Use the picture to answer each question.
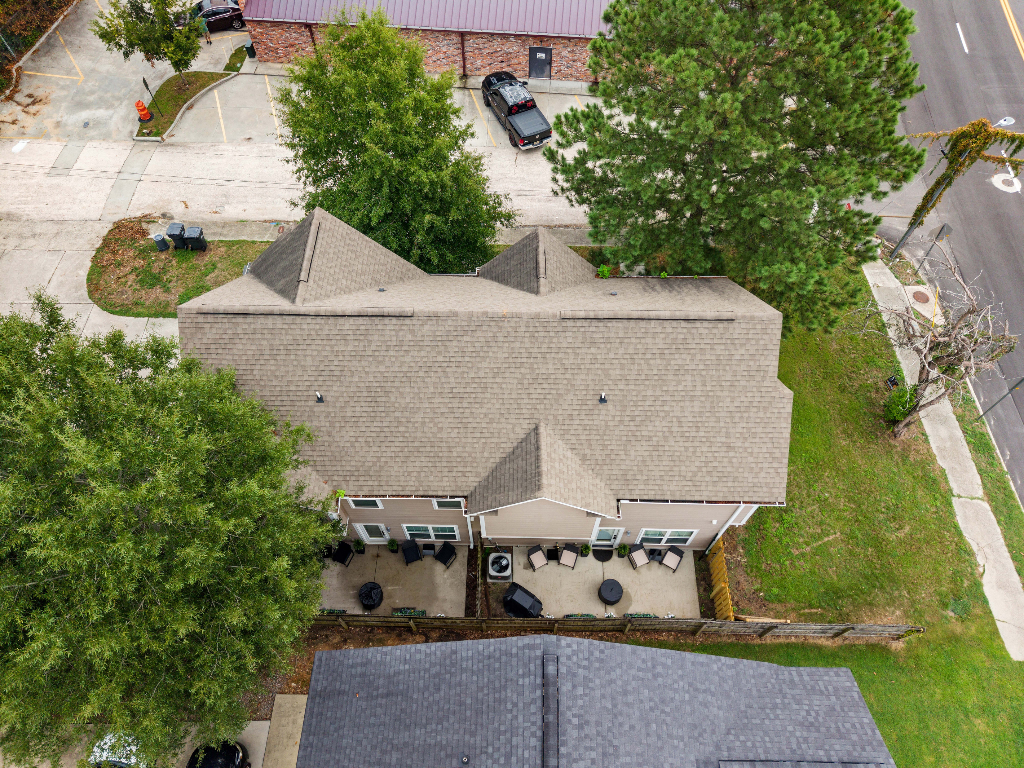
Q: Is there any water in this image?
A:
No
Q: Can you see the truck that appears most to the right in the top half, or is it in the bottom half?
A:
top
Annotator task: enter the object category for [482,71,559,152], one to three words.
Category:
truck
